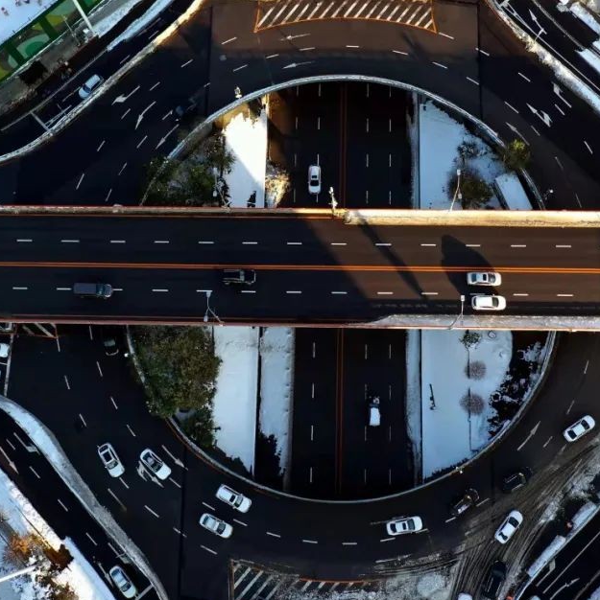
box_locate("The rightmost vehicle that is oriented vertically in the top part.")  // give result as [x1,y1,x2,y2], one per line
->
[308,165,321,193]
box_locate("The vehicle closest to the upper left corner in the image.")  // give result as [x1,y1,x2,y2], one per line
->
[78,73,104,98]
